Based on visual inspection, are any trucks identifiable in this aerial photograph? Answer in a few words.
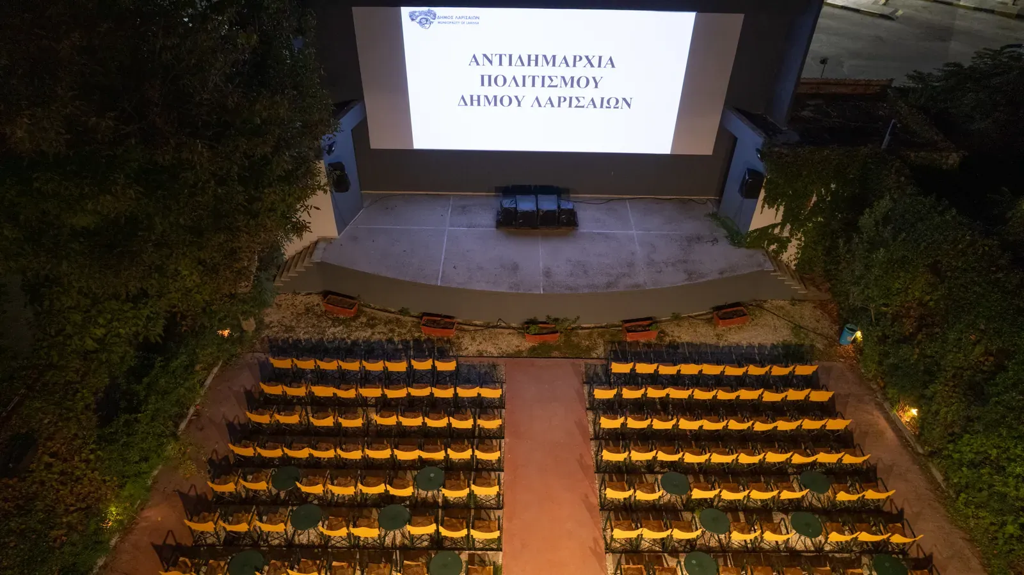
No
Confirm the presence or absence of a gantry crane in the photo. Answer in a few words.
No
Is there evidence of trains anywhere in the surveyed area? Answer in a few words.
No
